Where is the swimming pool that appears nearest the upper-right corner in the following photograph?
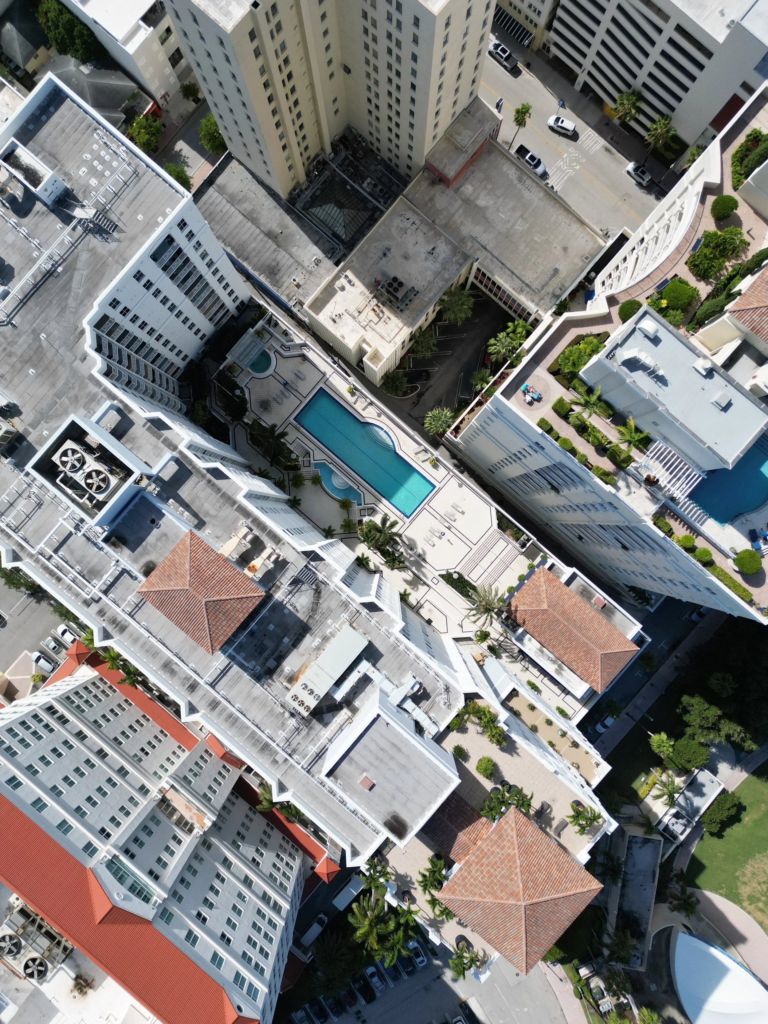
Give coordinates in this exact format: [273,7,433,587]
[685,423,768,535]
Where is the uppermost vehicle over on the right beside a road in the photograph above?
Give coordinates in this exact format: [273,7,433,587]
[486,37,524,76]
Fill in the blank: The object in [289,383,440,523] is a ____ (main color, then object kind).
blue swimming pool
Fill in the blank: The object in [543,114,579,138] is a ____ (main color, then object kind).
white car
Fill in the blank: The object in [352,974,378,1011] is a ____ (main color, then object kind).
black car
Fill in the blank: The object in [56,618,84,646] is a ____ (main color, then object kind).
white car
